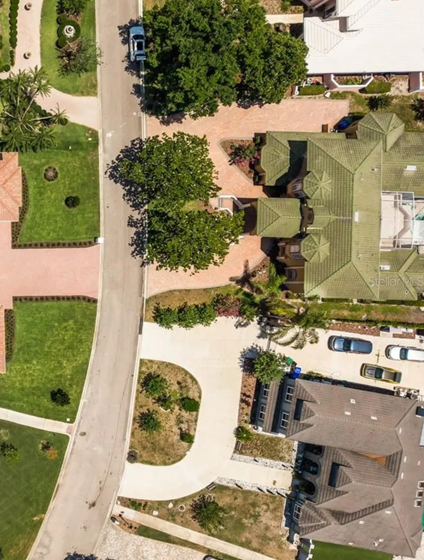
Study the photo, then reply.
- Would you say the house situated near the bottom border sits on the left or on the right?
right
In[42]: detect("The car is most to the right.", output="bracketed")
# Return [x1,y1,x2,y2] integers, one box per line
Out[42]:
[385,344,424,363]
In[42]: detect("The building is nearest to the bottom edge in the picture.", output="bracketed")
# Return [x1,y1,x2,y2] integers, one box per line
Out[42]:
[254,377,424,560]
